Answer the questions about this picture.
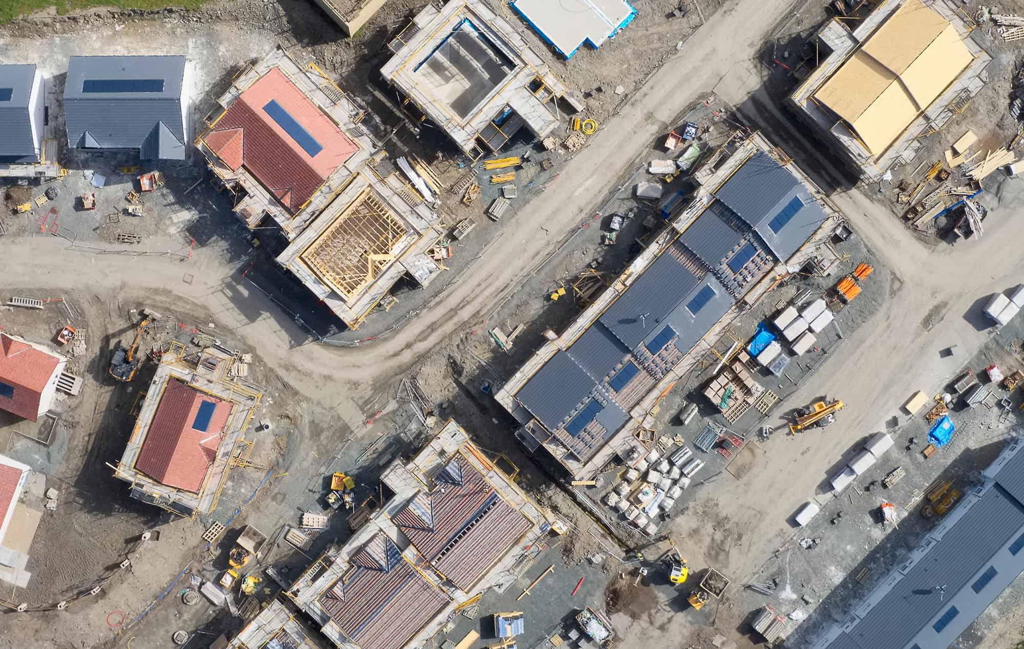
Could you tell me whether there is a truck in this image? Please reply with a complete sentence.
Yes, a truck appears in the view.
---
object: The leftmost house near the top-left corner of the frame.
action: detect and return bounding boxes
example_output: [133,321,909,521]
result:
[0,63,48,170]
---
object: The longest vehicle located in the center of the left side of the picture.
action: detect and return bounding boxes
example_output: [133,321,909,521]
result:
[103,306,161,386]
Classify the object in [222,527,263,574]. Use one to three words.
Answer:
truck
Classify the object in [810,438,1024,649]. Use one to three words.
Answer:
house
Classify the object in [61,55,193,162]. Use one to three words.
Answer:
house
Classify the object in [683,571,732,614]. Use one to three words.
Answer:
truck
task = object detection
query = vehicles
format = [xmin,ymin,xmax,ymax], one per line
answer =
[683,571,732,614]
[660,532,694,589]
[103,306,161,386]
[222,527,263,574]
[774,398,847,438]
